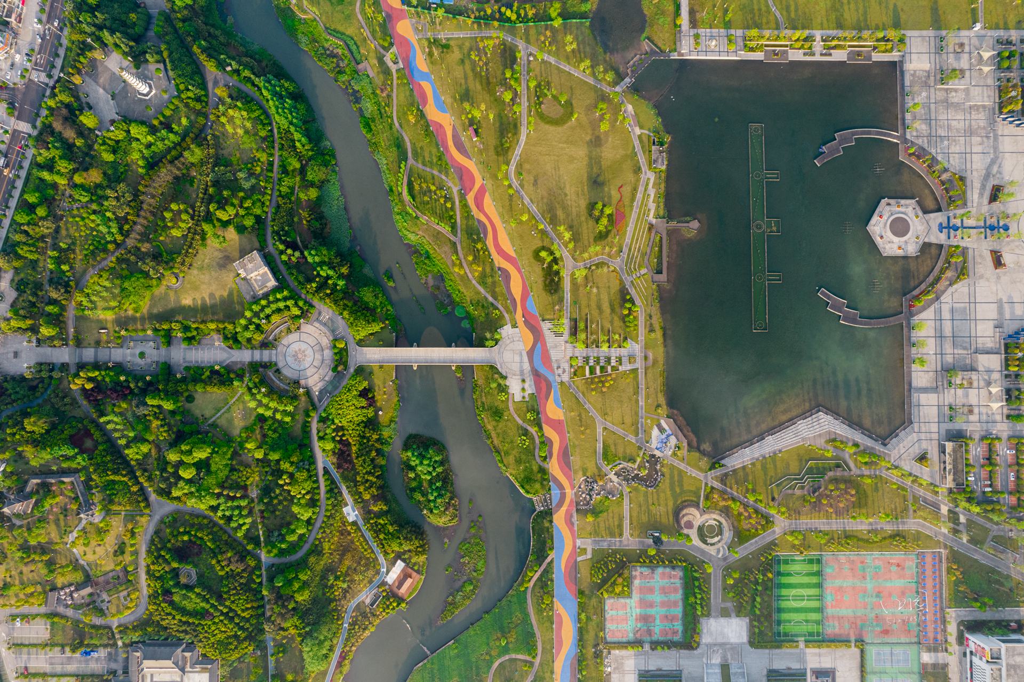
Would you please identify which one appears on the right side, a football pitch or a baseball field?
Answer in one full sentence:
The one visible on the right side is a football pitch.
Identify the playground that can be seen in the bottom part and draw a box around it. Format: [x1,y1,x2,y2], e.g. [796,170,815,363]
[651,419,678,456]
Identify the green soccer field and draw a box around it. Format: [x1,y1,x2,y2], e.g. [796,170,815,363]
[773,554,824,641]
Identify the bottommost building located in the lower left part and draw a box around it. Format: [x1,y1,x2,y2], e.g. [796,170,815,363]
[108,634,221,682]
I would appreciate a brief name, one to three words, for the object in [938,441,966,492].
building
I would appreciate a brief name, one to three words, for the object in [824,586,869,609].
basketball court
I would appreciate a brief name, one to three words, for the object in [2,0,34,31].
building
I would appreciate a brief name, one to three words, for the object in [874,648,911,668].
tennis court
